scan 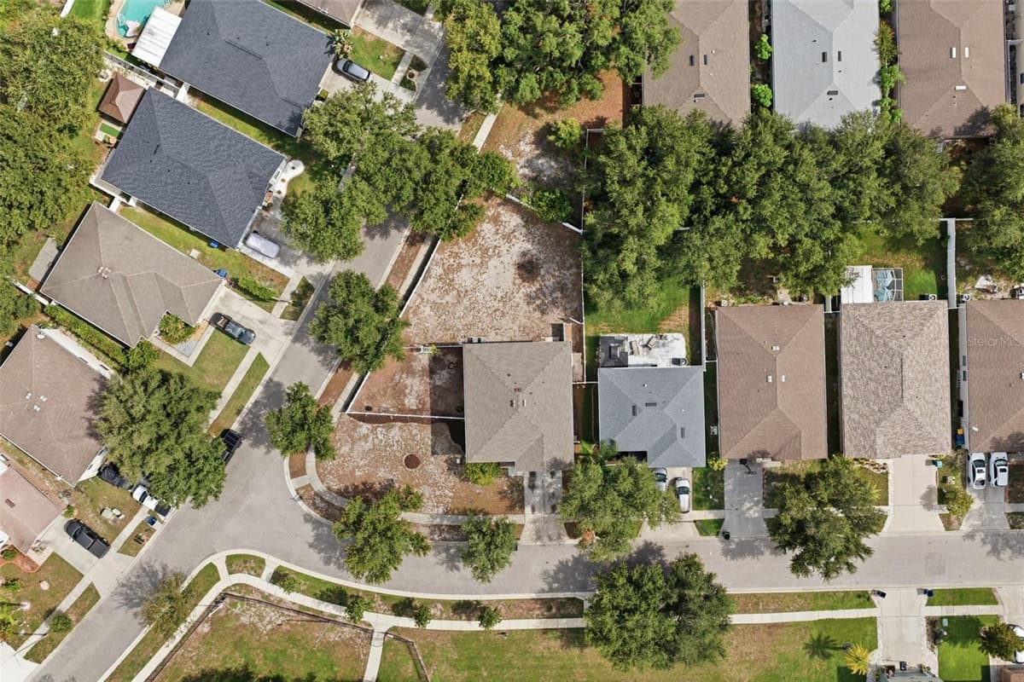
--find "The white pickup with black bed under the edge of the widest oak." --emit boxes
[129,487,176,523]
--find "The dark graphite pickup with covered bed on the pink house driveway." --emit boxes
[63,519,112,561]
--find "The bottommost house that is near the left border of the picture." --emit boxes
[0,448,67,554]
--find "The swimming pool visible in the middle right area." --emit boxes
[875,268,896,301]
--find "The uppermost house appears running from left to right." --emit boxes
[295,0,368,30]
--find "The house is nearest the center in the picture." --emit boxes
[463,324,574,476]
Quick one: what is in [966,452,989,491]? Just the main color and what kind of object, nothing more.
white car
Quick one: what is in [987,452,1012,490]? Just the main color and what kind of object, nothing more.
white car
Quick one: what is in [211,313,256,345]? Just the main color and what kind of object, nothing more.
gray car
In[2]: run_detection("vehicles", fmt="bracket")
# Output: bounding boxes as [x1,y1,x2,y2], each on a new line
[673,475,693,516]
[212,426,247,471]
[966,452,989,491]
[63,519,112,561]
[129,487,176,523]
[332,55,374,84]
[96,464,120,485]
[211,313,256,345]
[987,452,1012,490]
[651,468,671,505]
